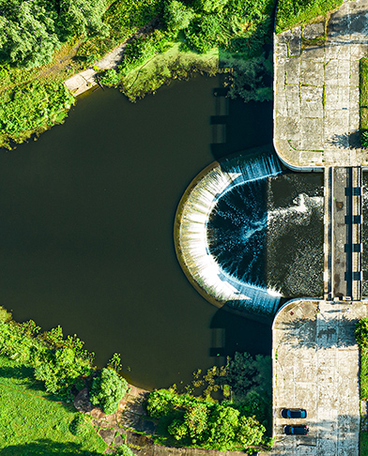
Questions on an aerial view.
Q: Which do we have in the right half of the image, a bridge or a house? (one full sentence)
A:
Visible in the right half of the image is a bridge.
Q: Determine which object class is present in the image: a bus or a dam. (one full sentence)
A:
Looking from above, you can make out a dam.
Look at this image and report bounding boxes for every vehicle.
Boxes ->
[282,407,306,419]
[284,424,309,436]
